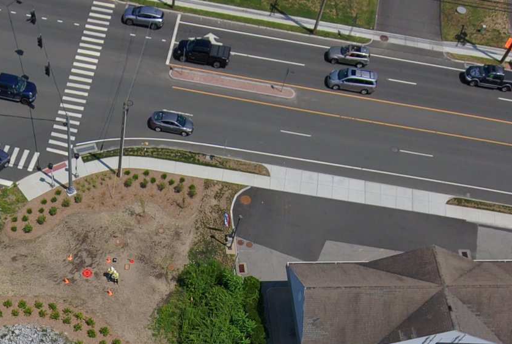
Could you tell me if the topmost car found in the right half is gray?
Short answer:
Yes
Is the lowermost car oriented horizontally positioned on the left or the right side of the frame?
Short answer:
left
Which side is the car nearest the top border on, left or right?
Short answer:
left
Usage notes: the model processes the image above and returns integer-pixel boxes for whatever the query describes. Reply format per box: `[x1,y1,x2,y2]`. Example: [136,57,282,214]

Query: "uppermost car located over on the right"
[324,45,371,70]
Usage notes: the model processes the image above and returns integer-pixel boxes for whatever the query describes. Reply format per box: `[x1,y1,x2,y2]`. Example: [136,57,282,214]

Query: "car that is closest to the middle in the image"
[147,112,195,139]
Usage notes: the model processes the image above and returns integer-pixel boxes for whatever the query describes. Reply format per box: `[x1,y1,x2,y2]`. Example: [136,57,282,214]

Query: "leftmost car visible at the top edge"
[121,5,164,30]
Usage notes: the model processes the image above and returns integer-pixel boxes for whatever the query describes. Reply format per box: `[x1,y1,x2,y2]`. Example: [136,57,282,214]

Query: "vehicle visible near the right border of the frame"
[462,63,512,93]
